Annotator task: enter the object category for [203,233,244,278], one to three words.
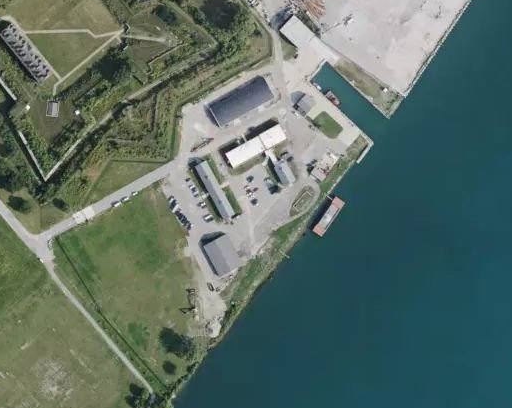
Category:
building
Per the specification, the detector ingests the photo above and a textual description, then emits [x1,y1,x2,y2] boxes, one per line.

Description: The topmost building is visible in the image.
[280,14,316,50]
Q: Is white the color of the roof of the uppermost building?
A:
Yes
